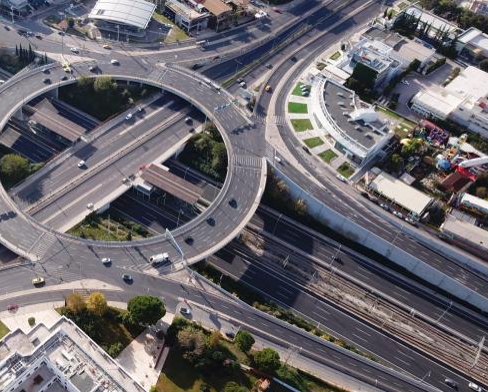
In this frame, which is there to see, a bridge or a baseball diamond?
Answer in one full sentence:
There is a bridge in the scene.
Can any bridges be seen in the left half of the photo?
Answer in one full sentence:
Yes, you'll find a bridge in the left half of the photo.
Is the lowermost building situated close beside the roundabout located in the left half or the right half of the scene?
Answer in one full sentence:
The lowermost building situated close beside the roundabout appears in the left half of the scene.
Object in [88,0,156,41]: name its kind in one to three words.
building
